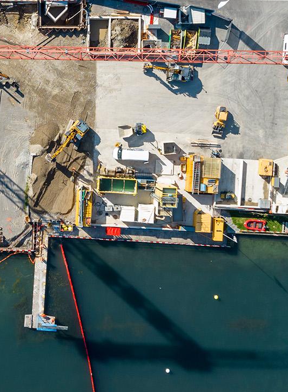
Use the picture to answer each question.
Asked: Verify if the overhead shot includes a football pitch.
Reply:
No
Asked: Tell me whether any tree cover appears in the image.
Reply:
No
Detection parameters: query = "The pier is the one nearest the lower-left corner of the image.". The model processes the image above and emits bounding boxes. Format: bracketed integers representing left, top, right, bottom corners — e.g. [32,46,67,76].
[24,234,55,329]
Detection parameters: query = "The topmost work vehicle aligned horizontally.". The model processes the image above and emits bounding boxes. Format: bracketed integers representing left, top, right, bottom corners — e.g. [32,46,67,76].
[143,66,193,84]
